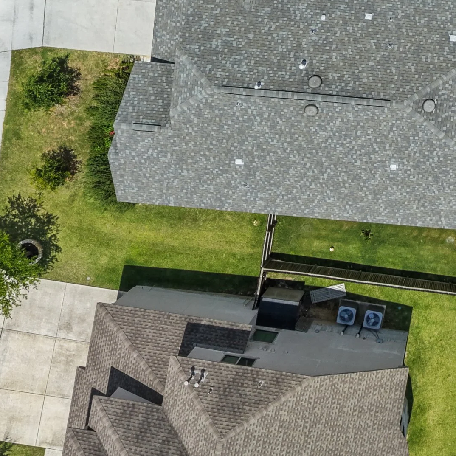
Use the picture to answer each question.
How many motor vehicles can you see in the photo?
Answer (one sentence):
No motor vehicles are visible.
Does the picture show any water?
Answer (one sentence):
No, water can't be seen anywhere here.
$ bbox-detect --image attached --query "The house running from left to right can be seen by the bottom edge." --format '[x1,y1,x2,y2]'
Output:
[63,286,410,456]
